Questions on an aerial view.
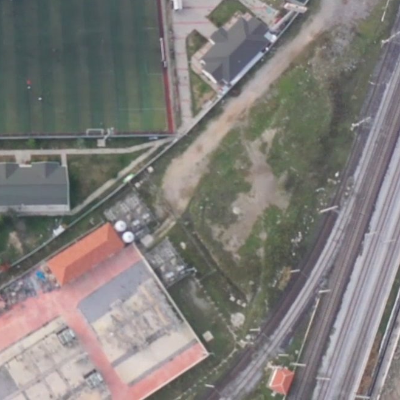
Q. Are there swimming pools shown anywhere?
No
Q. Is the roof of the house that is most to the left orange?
No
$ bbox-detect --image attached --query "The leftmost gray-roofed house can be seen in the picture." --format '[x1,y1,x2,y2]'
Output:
[0,162,70,214]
